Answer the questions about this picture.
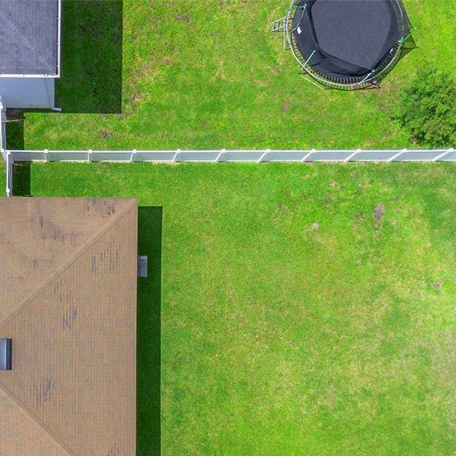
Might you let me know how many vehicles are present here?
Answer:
zero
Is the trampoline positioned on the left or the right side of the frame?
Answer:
right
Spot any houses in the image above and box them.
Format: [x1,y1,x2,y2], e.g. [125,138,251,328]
[0,0,63,114]
[0,197,146,456]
